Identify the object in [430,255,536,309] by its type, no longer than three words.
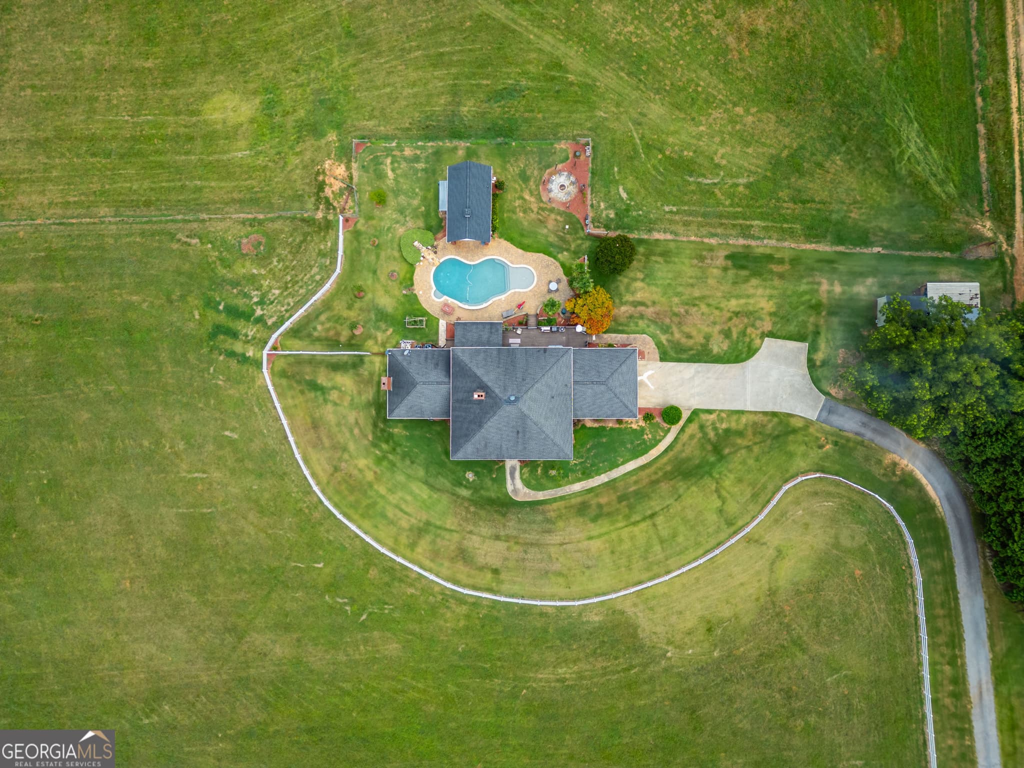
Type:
swimming pool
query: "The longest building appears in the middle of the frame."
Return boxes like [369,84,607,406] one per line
[381,321,638,460]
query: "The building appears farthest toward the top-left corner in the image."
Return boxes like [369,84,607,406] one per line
[438,161,492,248]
